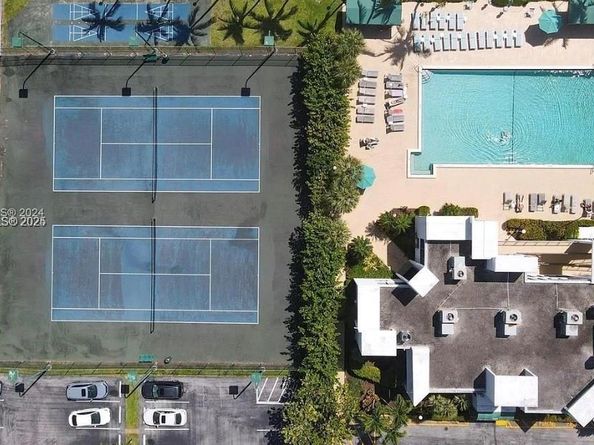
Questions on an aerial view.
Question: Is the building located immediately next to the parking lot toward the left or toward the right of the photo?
right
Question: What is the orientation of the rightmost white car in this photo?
from left to right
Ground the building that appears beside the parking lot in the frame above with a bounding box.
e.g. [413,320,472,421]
[354,217,594,427]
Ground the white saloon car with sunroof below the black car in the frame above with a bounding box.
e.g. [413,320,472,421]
[144,407,187,428]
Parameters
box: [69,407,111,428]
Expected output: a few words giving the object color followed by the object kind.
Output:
white car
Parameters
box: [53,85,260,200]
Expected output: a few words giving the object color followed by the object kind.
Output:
blue tennis court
